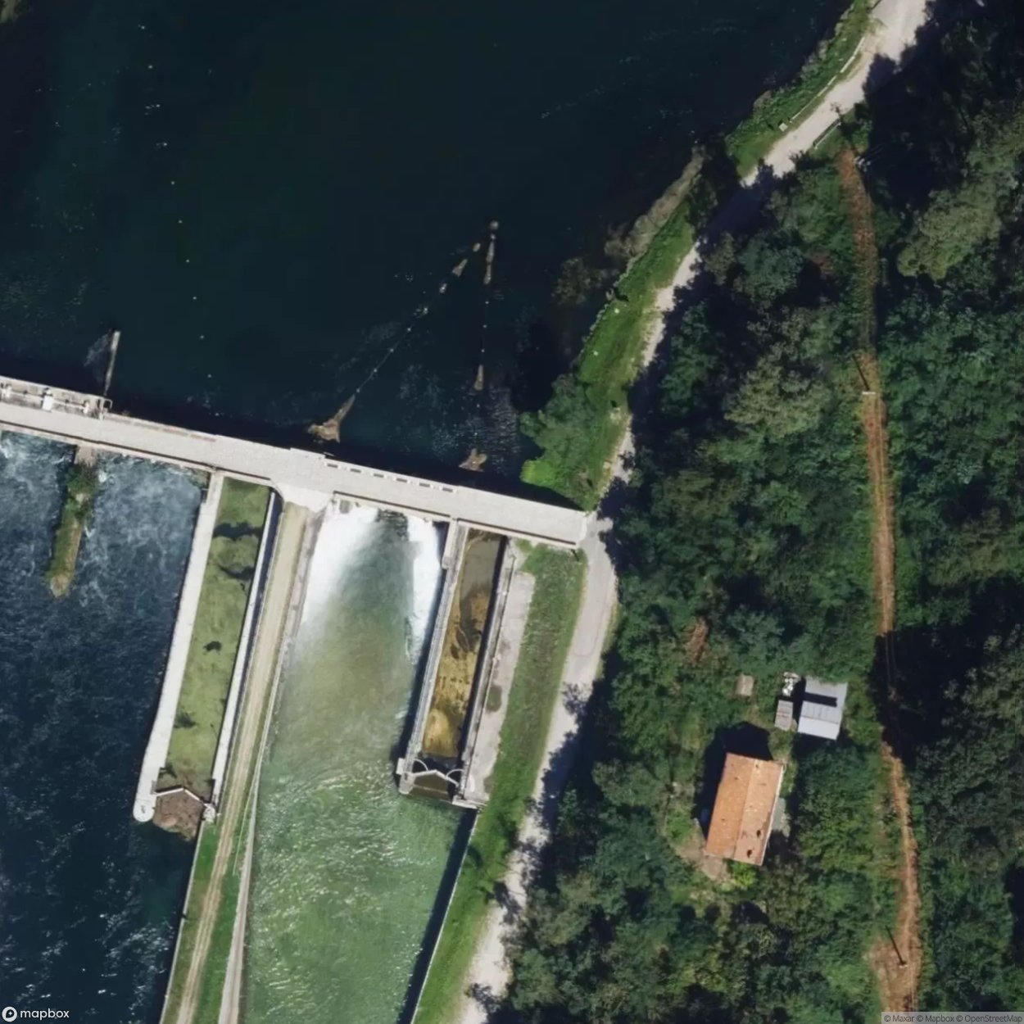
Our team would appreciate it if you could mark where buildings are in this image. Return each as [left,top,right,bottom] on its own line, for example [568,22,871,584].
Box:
[737,675,754,696]
[776,700,793,730]
[705,754,788,867]
[799,677,848,740]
